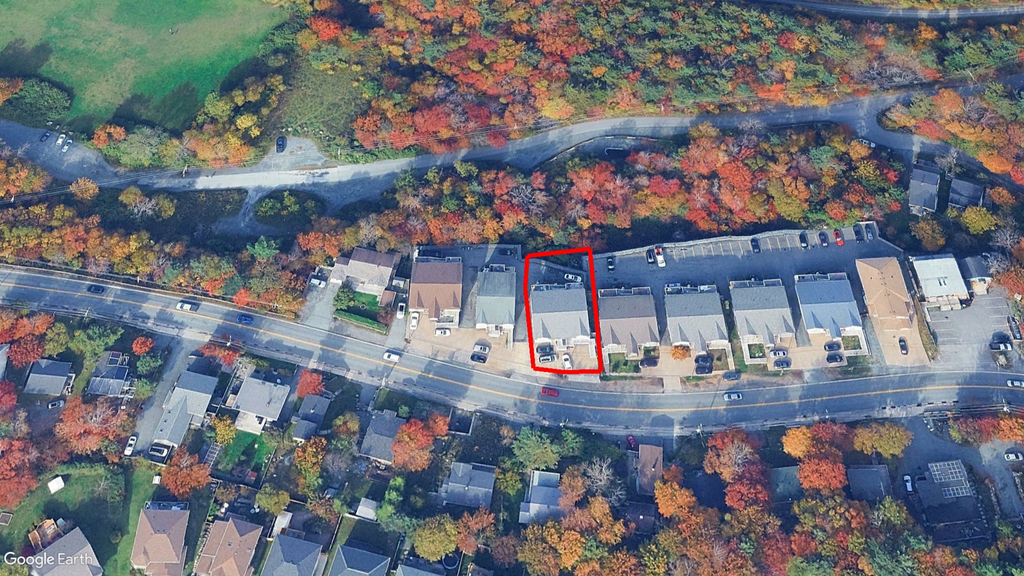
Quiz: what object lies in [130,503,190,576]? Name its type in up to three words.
house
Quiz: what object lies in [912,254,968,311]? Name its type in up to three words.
building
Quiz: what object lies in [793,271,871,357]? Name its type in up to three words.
house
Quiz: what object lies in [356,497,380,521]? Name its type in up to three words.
shed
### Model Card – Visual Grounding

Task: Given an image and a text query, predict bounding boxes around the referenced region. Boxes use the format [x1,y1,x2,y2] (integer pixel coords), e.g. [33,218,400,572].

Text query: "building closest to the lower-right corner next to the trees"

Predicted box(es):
[915,460,988,542]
